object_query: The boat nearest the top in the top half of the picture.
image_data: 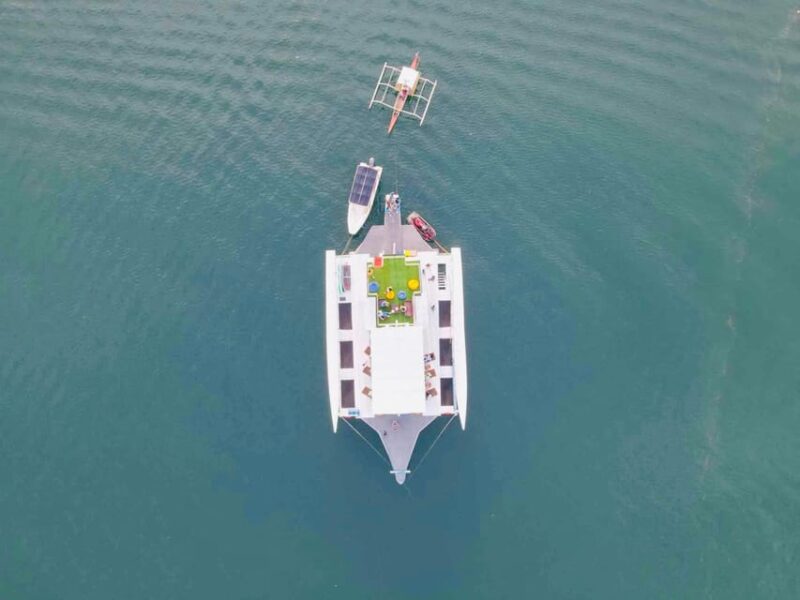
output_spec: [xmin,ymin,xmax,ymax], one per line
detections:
[370,51,436,133]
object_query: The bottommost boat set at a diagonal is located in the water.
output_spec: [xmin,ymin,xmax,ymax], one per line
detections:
[407,211,434,241]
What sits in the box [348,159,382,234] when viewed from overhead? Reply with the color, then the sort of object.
white boat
